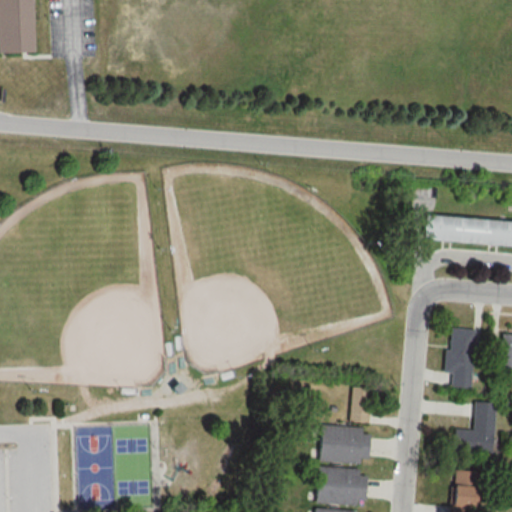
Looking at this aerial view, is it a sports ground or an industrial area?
sports ground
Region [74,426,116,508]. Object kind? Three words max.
basketball court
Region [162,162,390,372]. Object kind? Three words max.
baseball field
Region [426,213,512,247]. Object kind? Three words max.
building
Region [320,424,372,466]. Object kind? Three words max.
house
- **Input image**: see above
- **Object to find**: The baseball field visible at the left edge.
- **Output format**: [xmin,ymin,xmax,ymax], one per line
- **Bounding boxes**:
[0,172,162,387]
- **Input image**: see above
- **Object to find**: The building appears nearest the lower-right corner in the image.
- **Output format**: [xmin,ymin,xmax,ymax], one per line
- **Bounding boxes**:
[450,470,482,510]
